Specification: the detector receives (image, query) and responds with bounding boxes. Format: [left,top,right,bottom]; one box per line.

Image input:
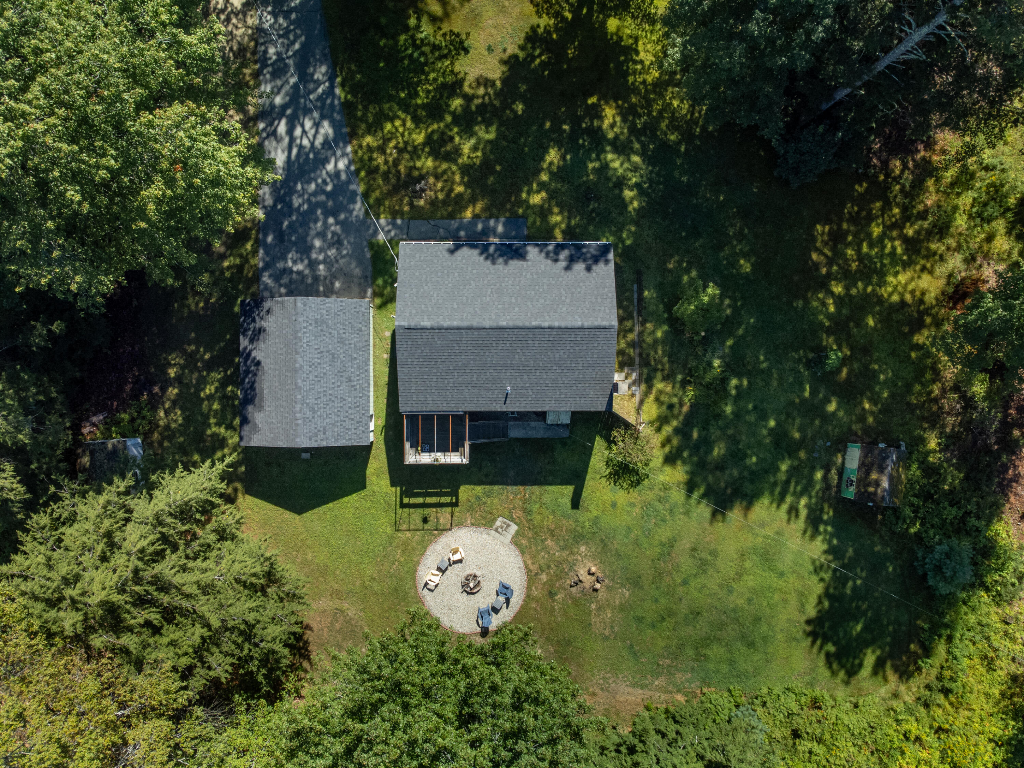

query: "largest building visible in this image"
[391,239,628,416]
